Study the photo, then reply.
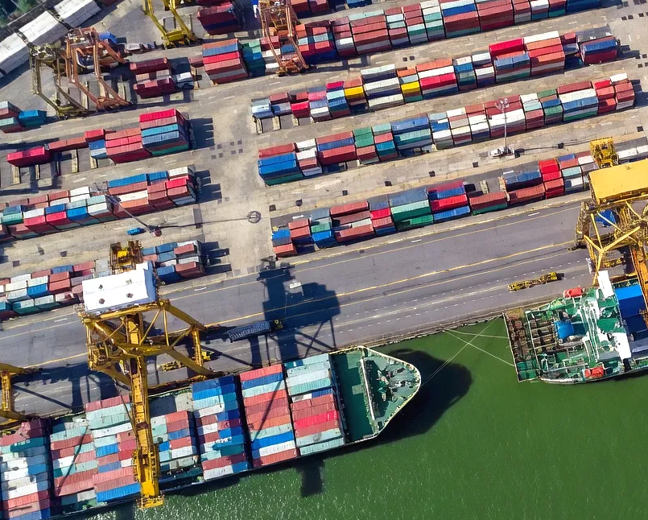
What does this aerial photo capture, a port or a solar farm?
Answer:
port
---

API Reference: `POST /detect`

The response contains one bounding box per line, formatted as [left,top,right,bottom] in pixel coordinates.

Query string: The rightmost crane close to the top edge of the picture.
[253,0,310,76]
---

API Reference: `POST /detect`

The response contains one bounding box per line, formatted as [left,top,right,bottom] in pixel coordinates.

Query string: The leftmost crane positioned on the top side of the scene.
[19,33,91,121]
